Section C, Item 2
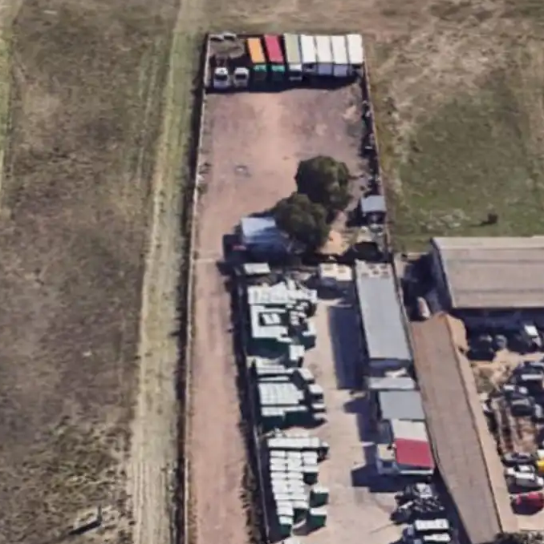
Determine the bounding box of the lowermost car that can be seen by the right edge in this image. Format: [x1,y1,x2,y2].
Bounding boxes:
[512,494,544,510]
